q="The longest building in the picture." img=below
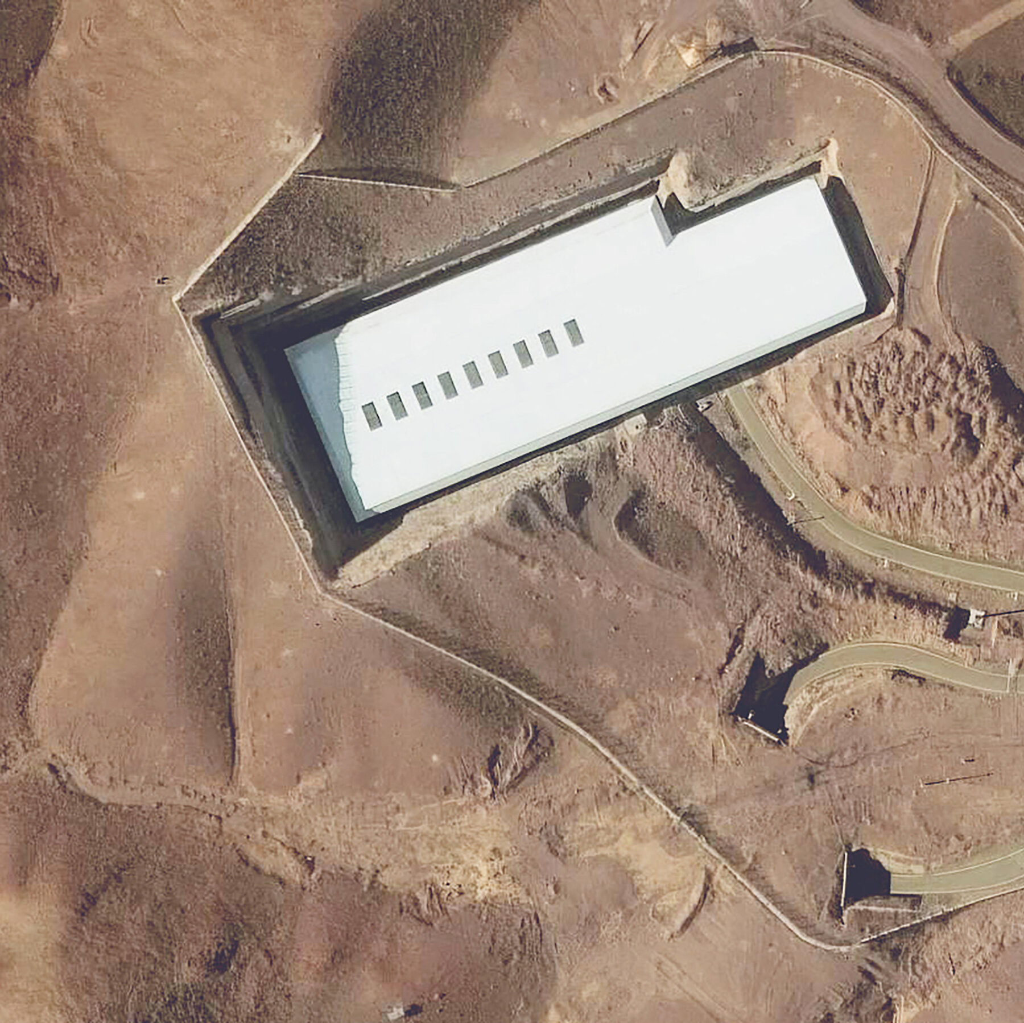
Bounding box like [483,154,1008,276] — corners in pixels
[285,178,865,522]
